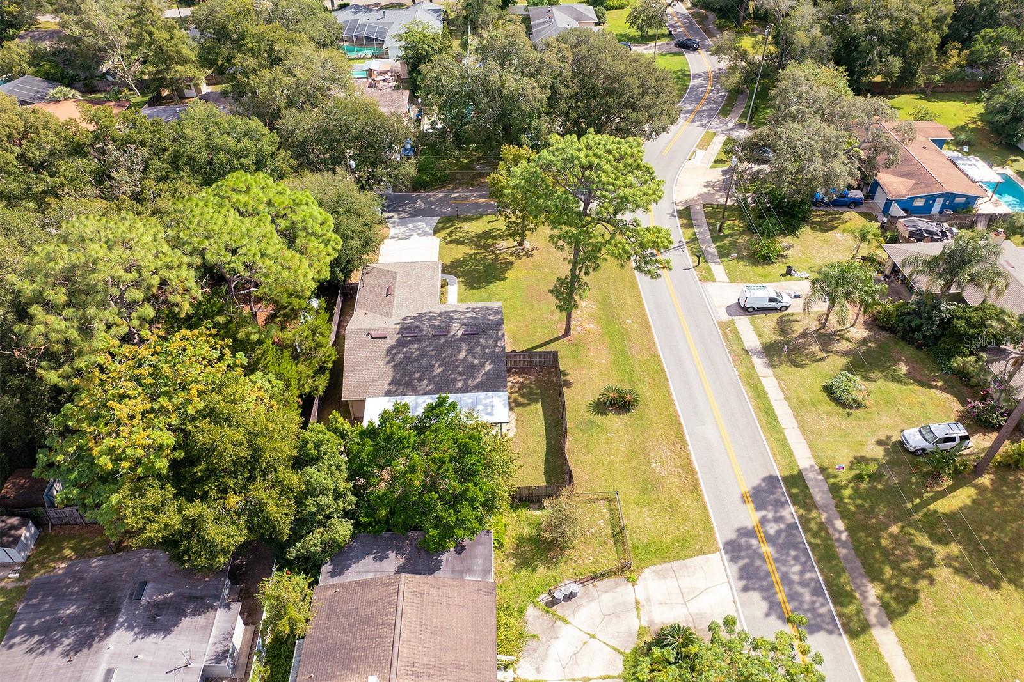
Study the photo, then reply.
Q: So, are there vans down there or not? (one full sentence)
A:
Yes, this view includes a van.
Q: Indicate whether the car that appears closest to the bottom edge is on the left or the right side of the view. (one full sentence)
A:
It is on the right.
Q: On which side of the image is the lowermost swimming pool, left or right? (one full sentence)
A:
The lowermost swimming pool is on the right side of the image.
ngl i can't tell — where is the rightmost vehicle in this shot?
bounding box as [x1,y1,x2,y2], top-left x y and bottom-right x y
[894,415,967,456]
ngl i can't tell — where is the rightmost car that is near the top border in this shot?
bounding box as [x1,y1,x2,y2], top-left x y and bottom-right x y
[672,33,702,47]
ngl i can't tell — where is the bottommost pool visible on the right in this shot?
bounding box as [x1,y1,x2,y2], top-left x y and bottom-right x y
[984,173,1024,211]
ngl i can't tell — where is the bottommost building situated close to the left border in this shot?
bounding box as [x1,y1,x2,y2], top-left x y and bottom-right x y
[0,555,252,682]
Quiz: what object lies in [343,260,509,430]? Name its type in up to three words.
house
